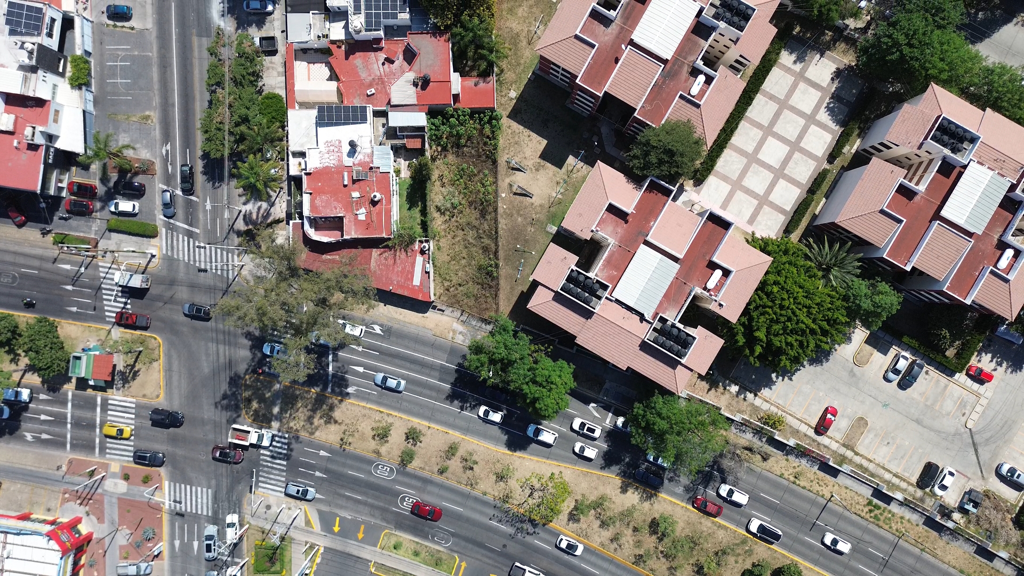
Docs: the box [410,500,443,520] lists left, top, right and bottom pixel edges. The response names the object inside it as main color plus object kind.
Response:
red car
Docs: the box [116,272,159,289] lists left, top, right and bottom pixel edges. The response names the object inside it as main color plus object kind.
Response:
white vehicle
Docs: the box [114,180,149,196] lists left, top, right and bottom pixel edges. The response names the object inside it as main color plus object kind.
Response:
black car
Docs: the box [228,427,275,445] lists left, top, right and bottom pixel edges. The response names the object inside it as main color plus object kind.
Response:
white vehicle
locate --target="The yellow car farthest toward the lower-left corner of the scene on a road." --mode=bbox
[103,423,135,439]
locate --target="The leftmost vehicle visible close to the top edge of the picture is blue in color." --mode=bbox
[106,4,135,20]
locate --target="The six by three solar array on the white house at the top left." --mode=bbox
[4,0,44,32]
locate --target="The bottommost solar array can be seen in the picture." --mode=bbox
[316,105,368,122]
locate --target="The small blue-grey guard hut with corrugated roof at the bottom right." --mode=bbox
[949,486,983,513]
